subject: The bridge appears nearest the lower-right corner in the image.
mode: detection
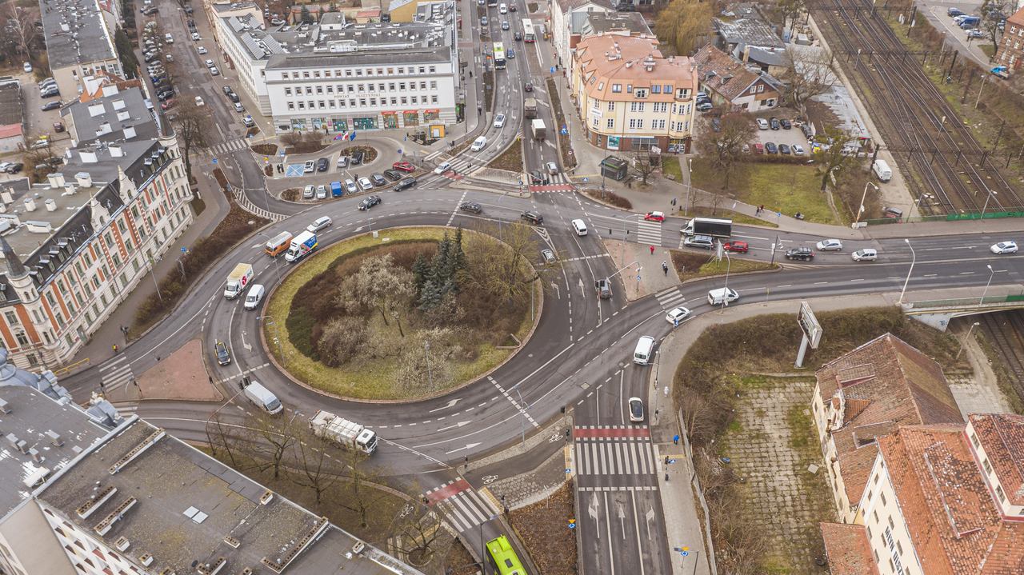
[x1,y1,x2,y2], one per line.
[893,282,1024,323]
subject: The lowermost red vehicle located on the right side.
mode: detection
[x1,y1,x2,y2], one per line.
[721,239,751,253]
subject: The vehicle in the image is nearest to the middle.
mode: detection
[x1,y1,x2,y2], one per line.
[540,248,556,265]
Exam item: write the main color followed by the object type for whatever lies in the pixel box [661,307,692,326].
white car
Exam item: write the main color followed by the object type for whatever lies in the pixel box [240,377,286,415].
white van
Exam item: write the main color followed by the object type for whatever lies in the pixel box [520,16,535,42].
white vehicle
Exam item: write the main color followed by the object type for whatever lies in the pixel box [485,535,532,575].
green bus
